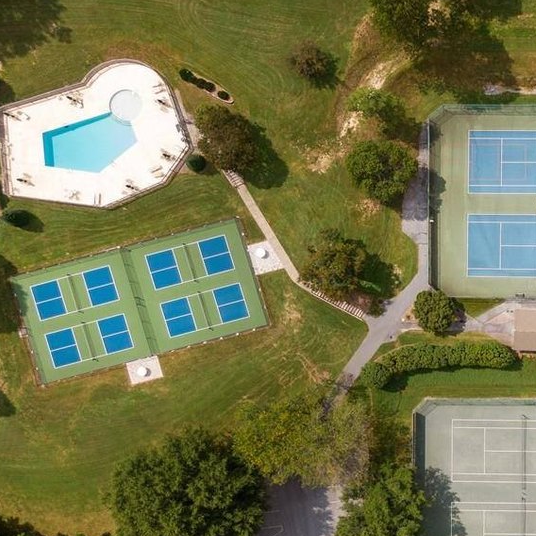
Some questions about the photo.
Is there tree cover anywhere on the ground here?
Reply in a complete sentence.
Yes, some tree cover is visible.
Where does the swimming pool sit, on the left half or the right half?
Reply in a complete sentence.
You can find the swimming pool on the left side of the picture.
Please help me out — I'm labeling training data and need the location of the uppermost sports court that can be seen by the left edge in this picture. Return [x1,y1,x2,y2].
[12,247,136,331]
